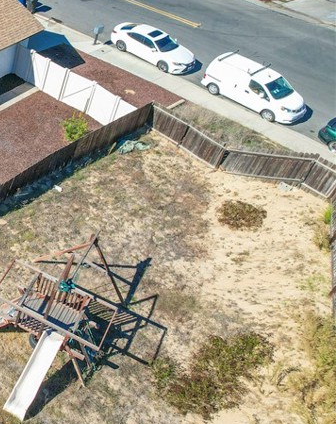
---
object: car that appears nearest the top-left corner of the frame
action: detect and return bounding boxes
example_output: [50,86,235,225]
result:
[109,24,197,76]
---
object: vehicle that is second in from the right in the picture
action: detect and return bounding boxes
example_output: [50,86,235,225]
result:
[199,52,307,126]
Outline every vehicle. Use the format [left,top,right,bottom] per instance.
[199,52,307,126]
[109,24,197,76]
[308,115,336,155]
